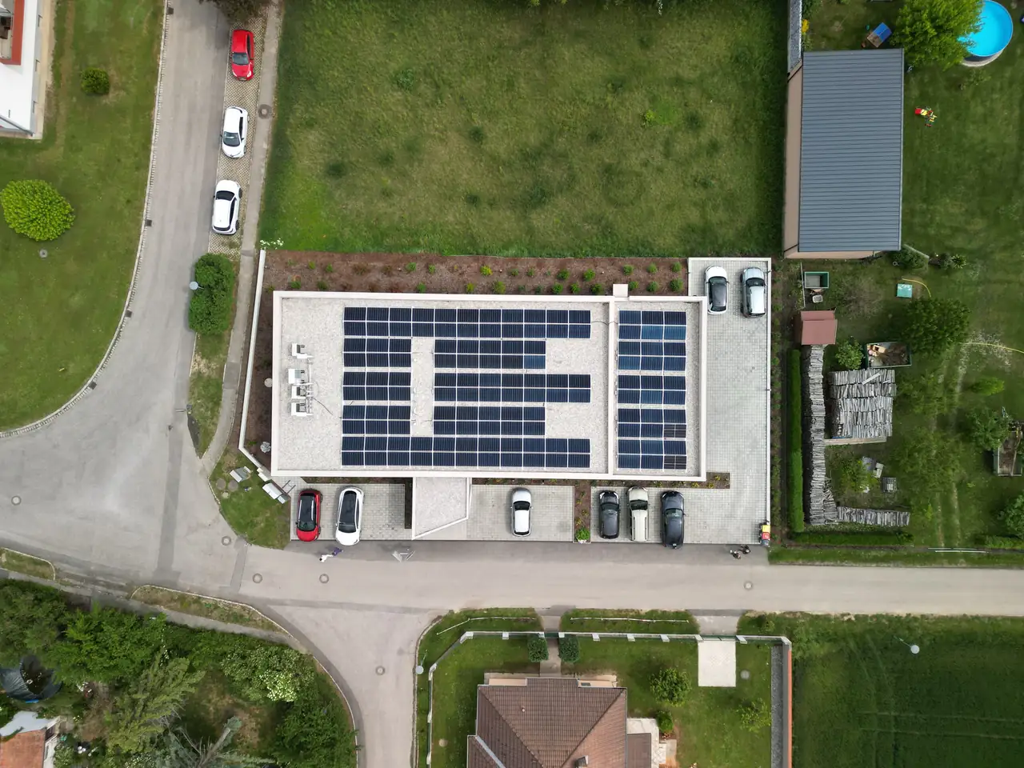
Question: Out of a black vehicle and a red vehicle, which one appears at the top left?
red vehicle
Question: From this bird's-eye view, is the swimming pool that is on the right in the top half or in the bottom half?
top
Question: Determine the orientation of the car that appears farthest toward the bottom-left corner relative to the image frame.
vertically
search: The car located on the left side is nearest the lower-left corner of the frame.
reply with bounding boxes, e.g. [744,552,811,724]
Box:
[295,489,323,540]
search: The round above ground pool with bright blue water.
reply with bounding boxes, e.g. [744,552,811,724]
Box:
[954,0,1013,67]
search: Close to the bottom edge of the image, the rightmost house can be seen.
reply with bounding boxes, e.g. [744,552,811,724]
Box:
[467,678,652,768]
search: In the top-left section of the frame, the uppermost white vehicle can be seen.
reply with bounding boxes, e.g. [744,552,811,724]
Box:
[221,106,251,160]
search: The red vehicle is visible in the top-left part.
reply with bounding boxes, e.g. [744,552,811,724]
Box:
[228,29,257,83]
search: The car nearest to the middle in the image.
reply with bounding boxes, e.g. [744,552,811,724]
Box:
[509,487,534,537]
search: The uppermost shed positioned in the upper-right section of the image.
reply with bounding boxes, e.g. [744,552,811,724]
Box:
[783,44,905,258]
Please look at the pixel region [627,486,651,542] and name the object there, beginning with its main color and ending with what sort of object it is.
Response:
white car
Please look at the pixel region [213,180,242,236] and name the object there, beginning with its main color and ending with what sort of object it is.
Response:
white car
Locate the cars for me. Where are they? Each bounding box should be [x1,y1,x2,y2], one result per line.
[739,267,767,317]
[659,489,687,549]
[509,487,534,537]
[228,29,257,83]
[627,486,651,542]
[597,490,622,539]
[213,180,242,236]
[295,489,323,540]
[221,106,251,160]
[704,266,730,315]
[334,487,364,545]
